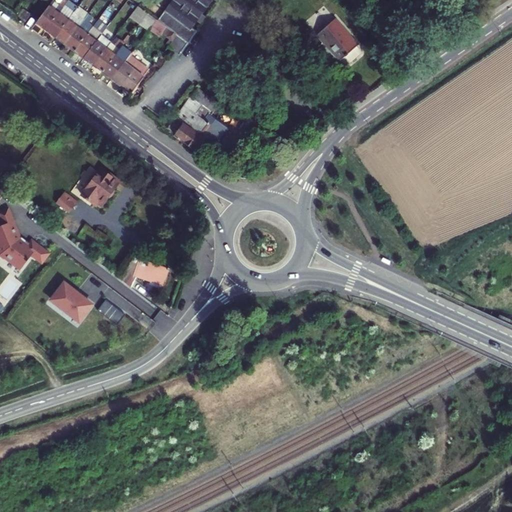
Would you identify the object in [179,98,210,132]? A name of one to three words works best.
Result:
house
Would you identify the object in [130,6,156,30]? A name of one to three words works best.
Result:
shed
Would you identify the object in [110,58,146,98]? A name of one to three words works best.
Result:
house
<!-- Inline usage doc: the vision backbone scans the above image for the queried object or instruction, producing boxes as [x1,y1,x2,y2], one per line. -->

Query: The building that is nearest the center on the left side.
[134,262,168,286]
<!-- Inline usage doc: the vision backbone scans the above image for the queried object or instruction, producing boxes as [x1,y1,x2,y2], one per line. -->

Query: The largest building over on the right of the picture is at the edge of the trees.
[318,18,358,60]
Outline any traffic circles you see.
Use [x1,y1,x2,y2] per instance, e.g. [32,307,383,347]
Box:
[214,190,318,292]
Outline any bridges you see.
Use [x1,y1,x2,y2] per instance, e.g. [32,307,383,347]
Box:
[416,288,512,366]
